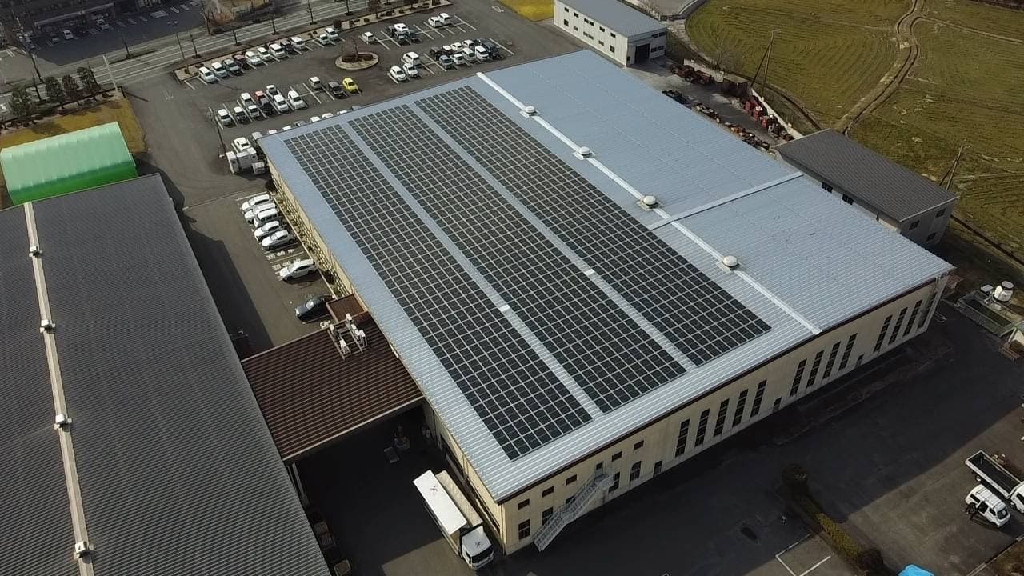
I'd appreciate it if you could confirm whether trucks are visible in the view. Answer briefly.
Yes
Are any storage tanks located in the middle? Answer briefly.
No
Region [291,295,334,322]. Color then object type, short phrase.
black car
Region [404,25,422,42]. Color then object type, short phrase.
black car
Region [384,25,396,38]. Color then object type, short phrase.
black vehicle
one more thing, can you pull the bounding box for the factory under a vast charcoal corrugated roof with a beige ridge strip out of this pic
[0,173,330,576]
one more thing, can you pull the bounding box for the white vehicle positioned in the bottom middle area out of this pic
[413,462,500,571]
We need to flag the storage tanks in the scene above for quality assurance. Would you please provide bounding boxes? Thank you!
[986,277,1019,309]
